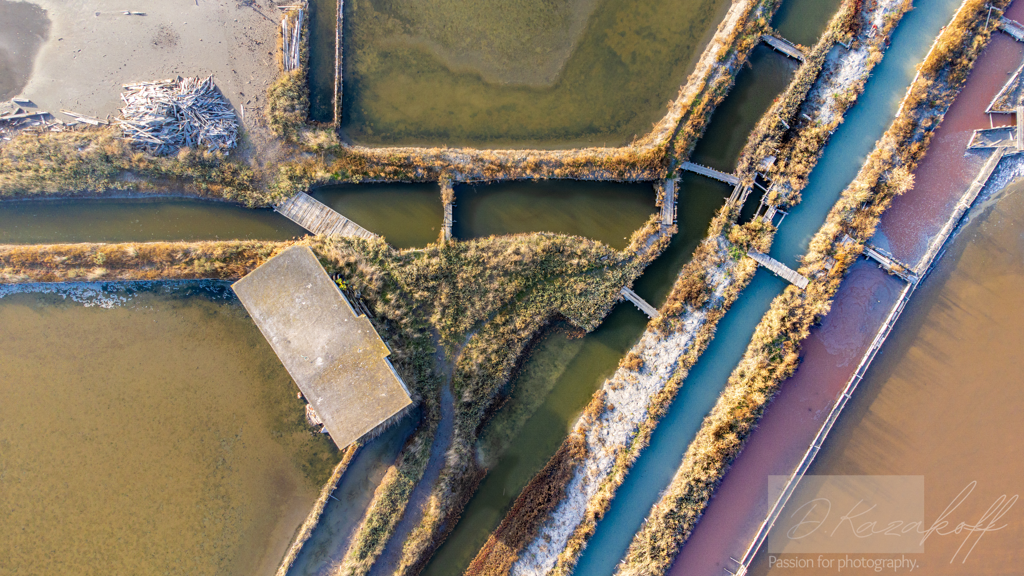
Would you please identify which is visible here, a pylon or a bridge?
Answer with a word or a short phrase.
bridge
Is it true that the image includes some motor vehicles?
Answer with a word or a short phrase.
No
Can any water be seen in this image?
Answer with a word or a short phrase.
Yes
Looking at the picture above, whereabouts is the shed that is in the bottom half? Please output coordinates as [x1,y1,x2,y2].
[231,244,413,450]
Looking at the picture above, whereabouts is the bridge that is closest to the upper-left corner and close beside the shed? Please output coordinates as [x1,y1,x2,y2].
[271,191,377,257]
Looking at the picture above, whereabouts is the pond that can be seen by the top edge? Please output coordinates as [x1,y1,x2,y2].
[342,0,731,151]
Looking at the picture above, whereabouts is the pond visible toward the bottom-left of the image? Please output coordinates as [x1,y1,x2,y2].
[0,279,359,576]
